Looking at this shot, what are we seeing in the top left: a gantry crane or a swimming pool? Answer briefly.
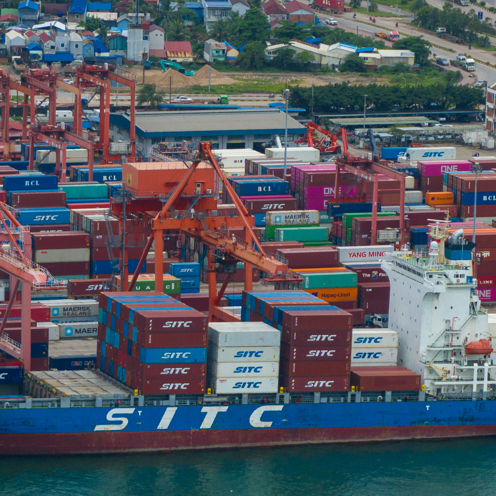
gantry crane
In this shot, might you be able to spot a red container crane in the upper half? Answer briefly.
Yes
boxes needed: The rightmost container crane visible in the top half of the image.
[331,144,411,245]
